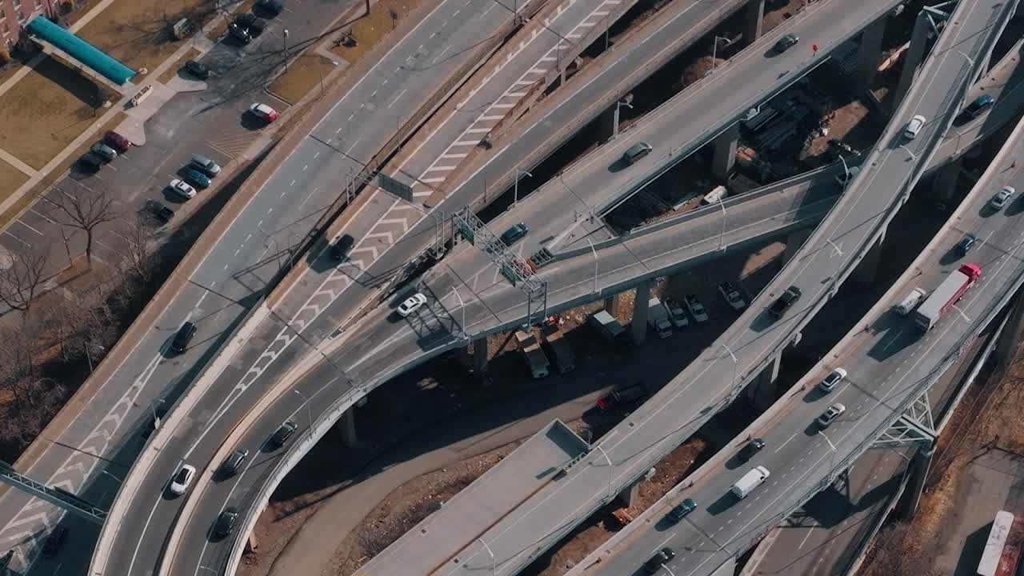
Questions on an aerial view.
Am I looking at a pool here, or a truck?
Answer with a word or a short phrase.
truck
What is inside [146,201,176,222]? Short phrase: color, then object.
black car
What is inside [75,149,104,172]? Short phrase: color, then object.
black car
